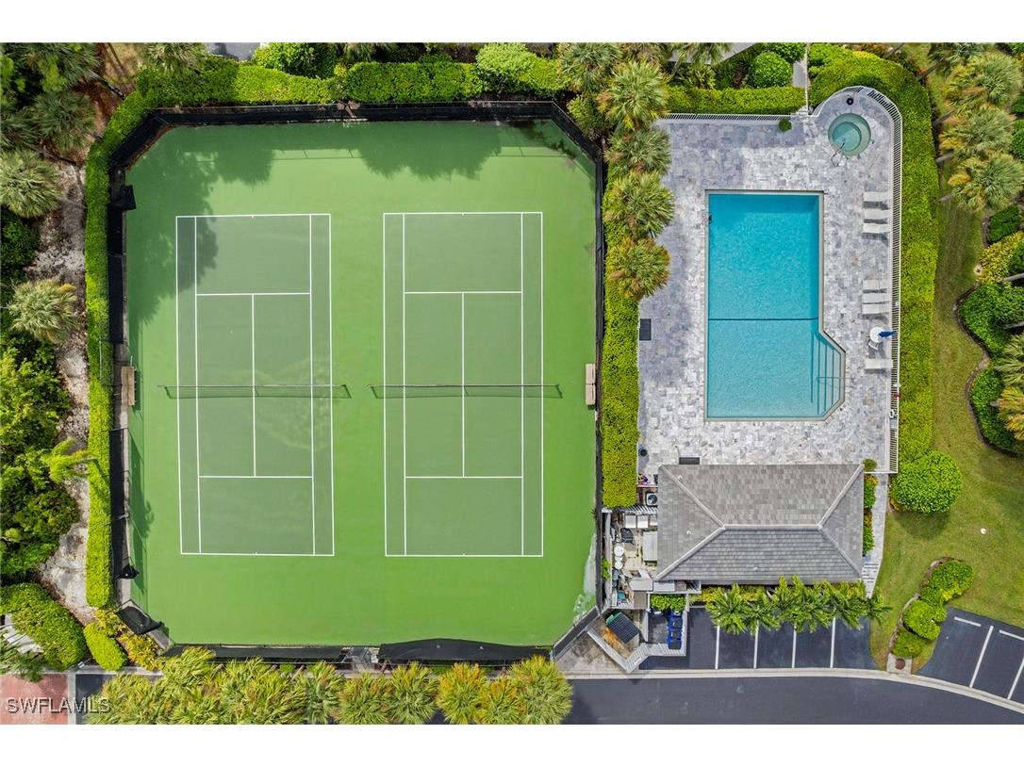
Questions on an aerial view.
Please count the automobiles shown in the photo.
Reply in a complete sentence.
There are no automobiles in this view.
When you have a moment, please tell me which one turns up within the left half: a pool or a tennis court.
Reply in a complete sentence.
Visible within the left half is a tennis court.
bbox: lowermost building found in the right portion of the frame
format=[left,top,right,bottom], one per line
[655,462,867,585]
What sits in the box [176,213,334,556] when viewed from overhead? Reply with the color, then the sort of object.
green tennis court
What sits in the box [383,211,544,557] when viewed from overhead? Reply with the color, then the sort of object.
green tennis court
